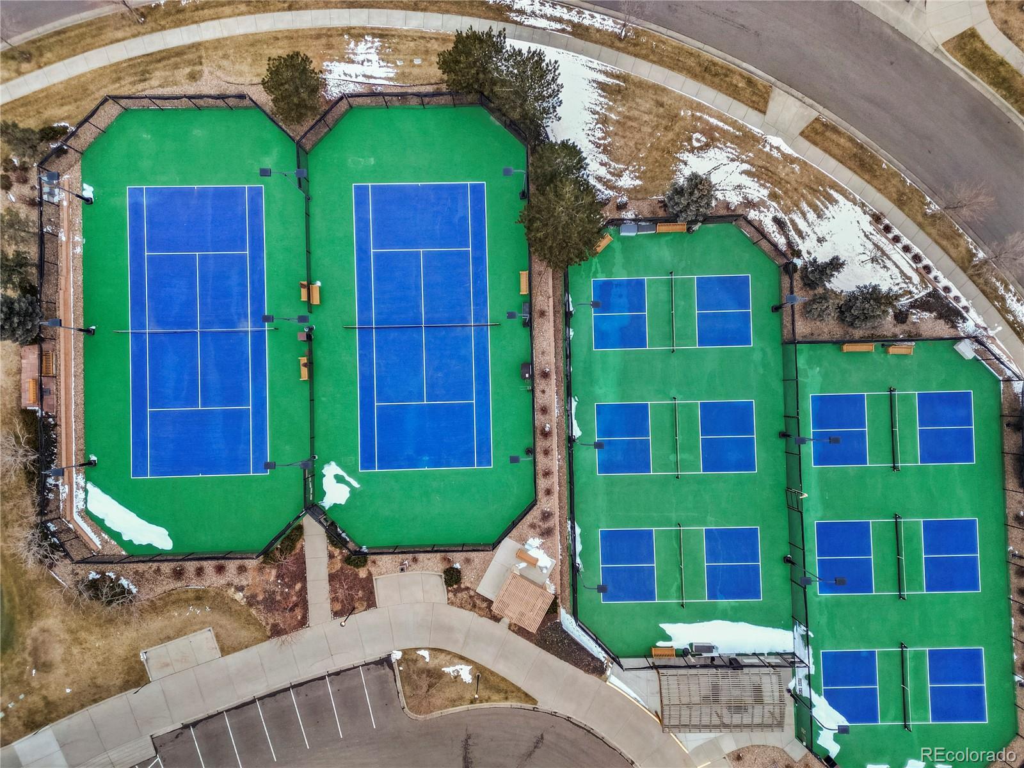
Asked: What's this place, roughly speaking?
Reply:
sports ground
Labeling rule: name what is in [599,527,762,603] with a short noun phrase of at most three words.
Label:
sports court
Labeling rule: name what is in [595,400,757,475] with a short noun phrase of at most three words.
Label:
sports court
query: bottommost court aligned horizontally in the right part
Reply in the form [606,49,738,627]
[821,648,988,725]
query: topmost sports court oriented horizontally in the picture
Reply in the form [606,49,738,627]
[592,274,753,350]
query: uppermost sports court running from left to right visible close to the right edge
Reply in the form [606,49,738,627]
[810,391,976,467]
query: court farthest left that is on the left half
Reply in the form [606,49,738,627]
[82,106,314,555]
